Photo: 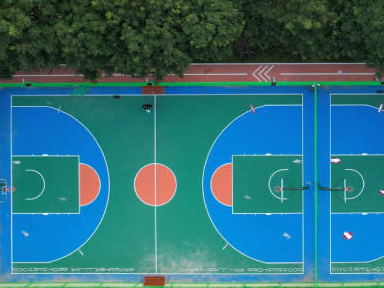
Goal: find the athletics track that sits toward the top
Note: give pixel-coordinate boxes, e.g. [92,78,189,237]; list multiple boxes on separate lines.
[0,61,383,81]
